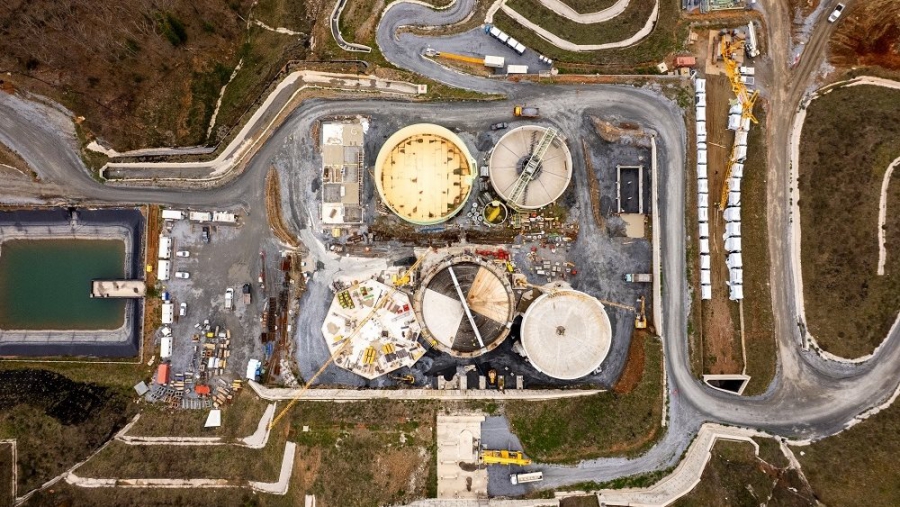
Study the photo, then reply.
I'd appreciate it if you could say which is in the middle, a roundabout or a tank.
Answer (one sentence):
There is a tank in the middle.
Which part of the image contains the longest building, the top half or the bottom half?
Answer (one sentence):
The longest building sits in the top half of the picture.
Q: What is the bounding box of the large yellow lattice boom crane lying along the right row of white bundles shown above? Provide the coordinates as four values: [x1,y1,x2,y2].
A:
[708,28,759,212]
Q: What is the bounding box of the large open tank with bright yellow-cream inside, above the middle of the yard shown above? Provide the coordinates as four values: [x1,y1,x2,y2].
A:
[374,123,482,226]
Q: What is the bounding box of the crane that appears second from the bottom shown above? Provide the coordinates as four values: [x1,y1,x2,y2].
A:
[271,245,434,426]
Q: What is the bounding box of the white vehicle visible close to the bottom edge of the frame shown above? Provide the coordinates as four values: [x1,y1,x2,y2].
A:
[512,474,543,487]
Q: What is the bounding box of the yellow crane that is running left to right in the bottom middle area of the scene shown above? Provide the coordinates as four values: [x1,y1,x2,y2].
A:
[482,447,533,467]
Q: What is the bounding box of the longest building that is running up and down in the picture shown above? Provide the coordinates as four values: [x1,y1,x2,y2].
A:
[320,121,365,223]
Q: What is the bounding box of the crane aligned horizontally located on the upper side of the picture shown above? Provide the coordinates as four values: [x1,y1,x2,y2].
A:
[423,43,486,62]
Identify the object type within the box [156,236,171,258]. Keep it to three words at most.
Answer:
building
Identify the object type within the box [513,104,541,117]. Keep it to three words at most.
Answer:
vehicle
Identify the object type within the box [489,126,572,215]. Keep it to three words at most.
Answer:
storage tank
